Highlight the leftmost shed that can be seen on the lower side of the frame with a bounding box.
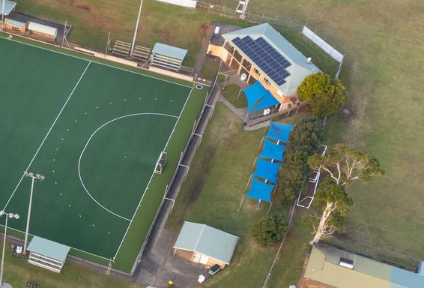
[172,220,239,269]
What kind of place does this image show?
sports ground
